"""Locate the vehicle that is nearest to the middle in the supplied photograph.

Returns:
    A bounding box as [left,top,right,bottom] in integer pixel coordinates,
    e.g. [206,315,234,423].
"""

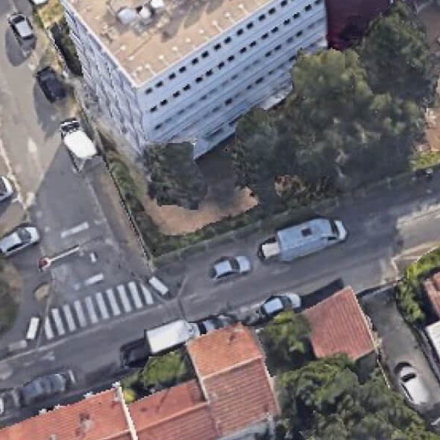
[208,254,253,284]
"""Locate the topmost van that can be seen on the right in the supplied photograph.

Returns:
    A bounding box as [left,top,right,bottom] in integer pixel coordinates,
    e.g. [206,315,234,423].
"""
[266,218,341,264]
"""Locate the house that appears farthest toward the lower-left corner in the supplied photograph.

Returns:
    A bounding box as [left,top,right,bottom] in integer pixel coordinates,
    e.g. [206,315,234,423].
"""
[5,386,134,440]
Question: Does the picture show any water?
No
